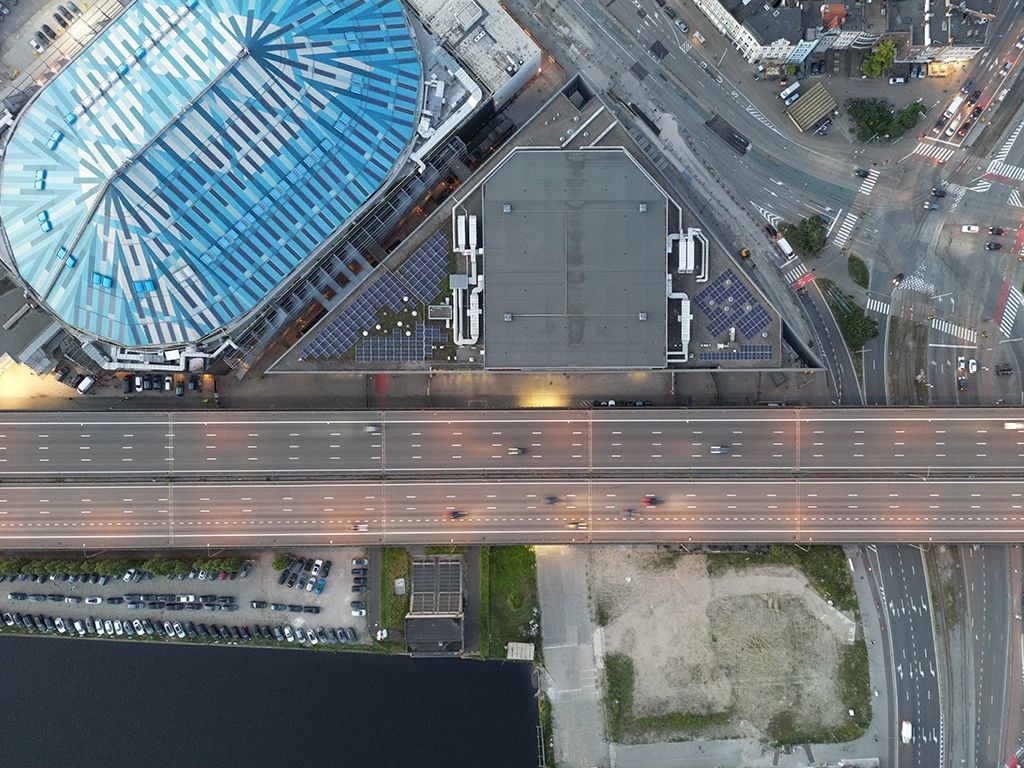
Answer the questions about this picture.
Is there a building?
Yes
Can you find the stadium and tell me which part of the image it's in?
top left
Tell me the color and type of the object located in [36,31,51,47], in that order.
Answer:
gray car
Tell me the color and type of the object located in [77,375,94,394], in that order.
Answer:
white vehicle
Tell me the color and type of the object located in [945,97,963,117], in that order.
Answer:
white vehicle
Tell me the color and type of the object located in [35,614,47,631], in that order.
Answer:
gray vehicle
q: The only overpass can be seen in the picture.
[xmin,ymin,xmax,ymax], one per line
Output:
[0,408,1024,548]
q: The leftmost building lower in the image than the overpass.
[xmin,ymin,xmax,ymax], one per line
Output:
[405,551,465,658]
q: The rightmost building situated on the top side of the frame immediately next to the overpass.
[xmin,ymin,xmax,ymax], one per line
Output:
[264,74,827,374]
